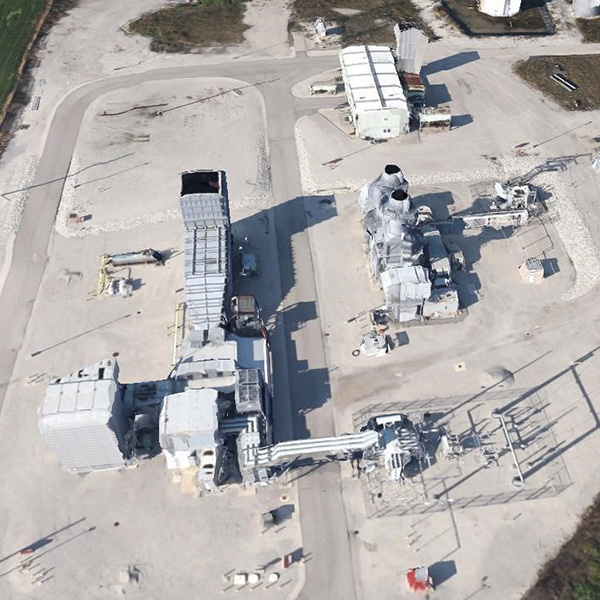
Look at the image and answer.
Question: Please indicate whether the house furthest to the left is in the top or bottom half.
bottom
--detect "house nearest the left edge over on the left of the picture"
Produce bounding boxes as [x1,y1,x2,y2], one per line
[43,357,139,474]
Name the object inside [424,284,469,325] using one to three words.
building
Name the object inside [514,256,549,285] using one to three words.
shed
